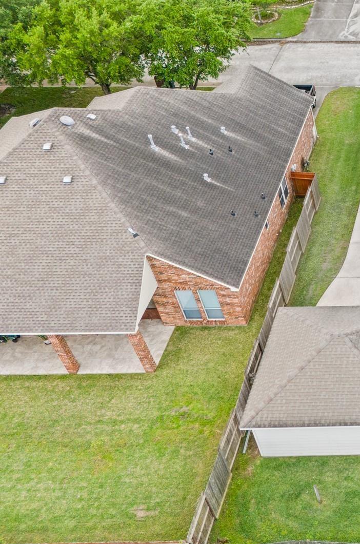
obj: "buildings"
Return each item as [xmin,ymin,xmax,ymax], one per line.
[237,306,360,466]
[0,66,317,374]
